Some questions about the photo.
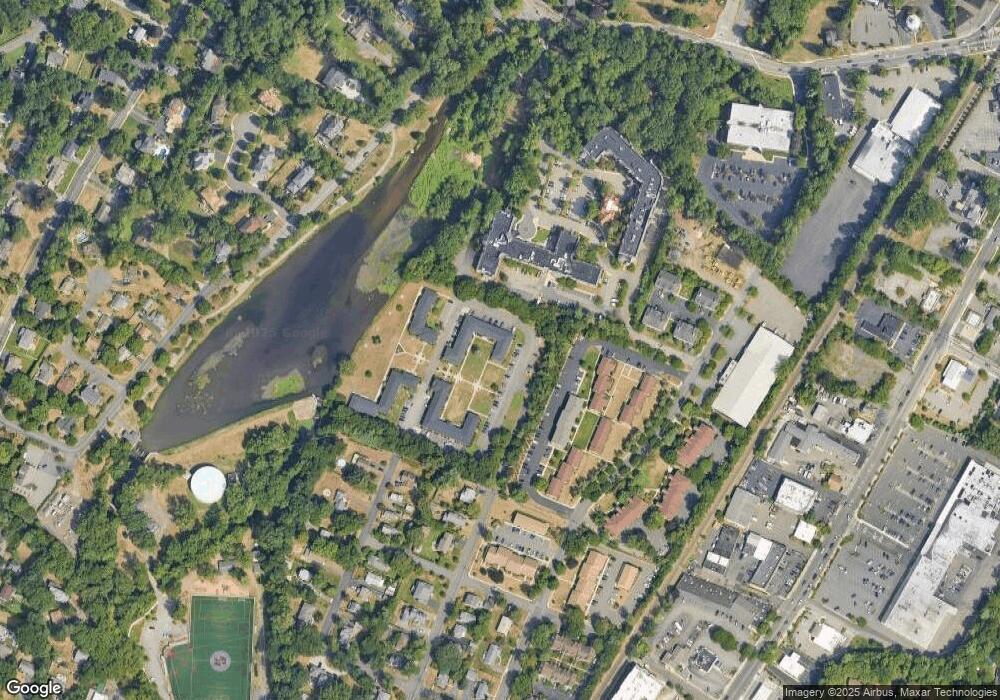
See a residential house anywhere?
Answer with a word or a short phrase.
Yes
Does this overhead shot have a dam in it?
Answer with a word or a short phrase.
Yes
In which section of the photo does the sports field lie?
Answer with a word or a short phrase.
bottom left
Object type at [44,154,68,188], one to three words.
house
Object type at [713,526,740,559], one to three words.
building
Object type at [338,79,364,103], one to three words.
house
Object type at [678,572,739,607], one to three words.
building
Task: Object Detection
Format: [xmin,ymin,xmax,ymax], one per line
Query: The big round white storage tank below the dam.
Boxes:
[187,463,229,506]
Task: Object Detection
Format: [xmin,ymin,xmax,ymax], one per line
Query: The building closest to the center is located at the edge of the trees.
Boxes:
[443,314,513,365]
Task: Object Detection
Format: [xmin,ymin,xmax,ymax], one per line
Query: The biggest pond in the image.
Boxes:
[143,98,457,455]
